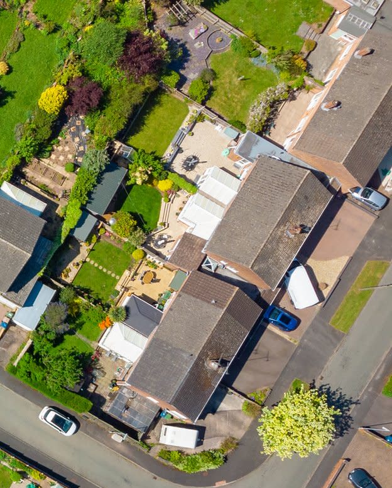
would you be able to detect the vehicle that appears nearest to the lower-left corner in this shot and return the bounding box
[38,407,79,439]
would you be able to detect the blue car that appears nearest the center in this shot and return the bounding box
[261,305,303,333]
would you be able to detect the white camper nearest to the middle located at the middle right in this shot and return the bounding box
[277,265,320,312]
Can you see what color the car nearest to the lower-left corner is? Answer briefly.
white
